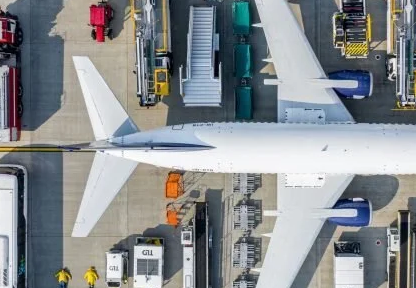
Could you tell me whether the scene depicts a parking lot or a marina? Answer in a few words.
parking lot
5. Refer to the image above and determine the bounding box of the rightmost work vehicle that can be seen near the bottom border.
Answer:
[387,210,416,288]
